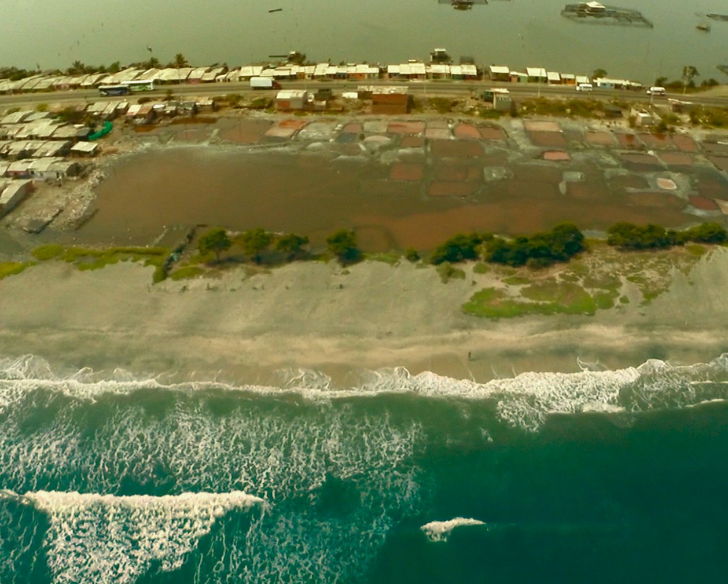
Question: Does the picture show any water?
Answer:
Yes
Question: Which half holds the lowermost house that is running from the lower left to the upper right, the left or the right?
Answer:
left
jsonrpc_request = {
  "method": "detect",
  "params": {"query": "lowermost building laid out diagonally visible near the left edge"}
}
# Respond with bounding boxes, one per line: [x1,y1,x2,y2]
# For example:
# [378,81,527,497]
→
[0,177,34,215]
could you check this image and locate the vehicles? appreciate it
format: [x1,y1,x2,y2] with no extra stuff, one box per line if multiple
[96,82,131,95]
[248,76,280,88]
[120,78,156,89]
[649,87,666,95]
[577,84,593,91]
